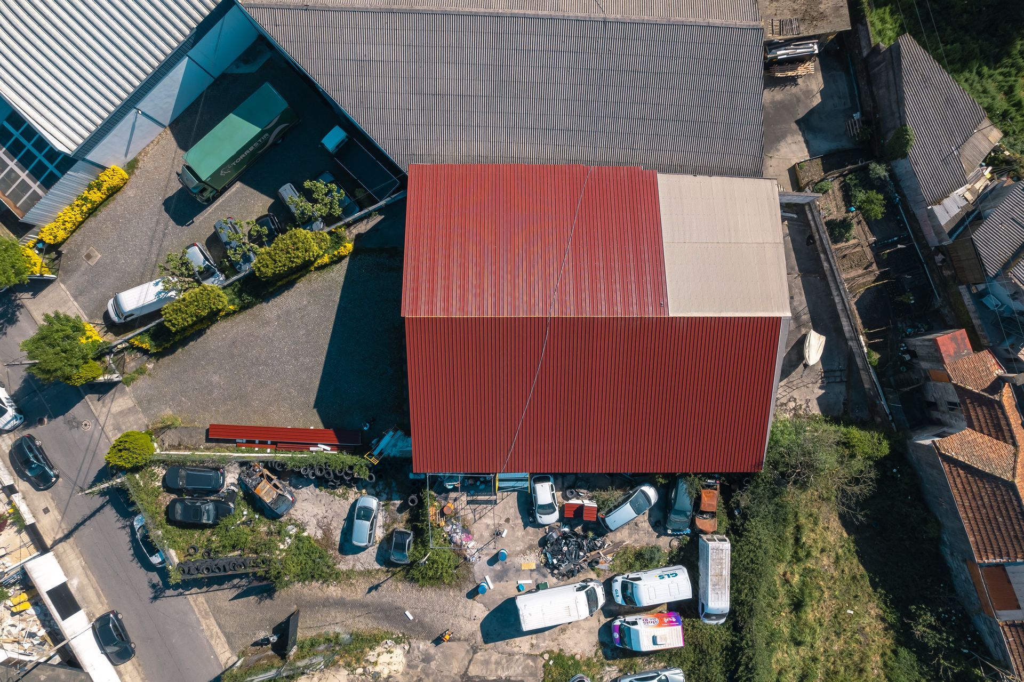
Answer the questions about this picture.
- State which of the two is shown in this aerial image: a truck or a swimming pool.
truck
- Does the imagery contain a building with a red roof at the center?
Yes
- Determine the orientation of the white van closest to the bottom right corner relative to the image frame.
up and down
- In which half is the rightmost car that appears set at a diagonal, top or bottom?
bottom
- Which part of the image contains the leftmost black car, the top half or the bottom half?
bottom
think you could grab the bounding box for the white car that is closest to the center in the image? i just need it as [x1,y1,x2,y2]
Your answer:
[531,473,560,527]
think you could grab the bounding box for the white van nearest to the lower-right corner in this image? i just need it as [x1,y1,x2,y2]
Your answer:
[696,537,731,625]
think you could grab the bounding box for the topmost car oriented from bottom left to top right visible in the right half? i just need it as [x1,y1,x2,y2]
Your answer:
[599,482,658,533]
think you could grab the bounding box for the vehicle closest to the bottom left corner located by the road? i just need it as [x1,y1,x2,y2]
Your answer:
[92,610,135,664]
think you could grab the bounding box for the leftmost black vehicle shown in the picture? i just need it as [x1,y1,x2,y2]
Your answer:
[10,432,59,491]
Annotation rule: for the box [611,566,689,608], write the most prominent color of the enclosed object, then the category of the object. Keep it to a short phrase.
white van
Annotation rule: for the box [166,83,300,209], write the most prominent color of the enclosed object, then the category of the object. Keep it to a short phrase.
green truck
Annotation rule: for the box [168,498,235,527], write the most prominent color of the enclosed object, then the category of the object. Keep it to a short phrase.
black car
